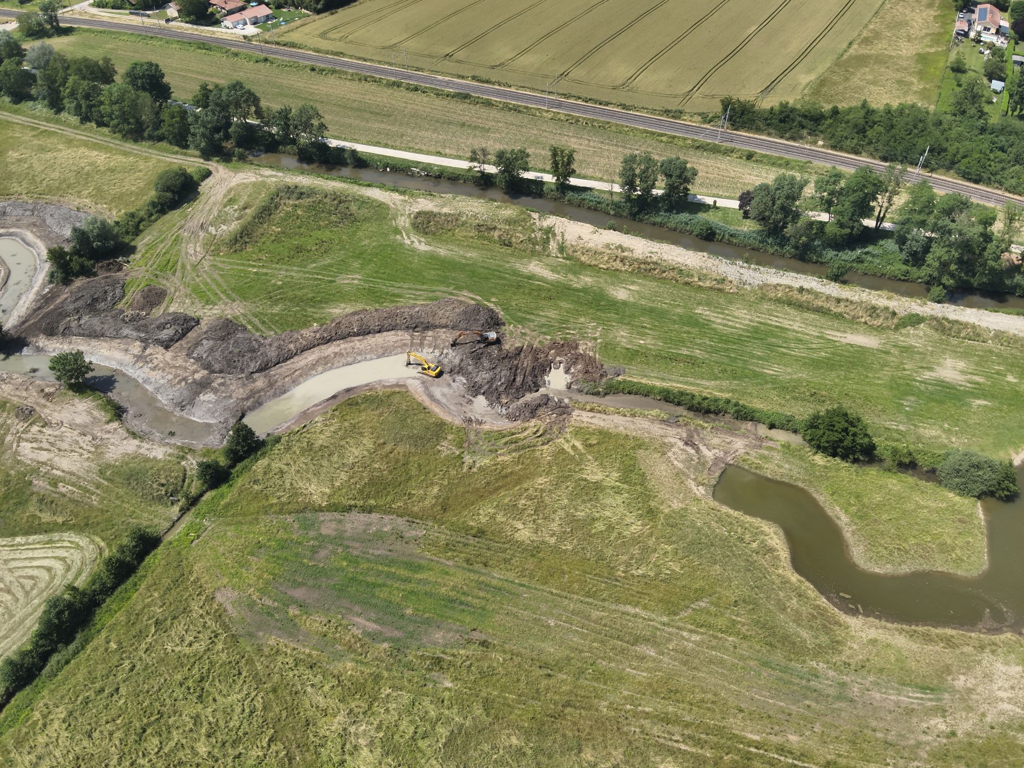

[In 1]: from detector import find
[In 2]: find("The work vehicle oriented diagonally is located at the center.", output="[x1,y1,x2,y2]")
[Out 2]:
[405,347,441,379]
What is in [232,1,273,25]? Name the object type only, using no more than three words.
house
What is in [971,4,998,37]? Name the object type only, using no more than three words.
house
